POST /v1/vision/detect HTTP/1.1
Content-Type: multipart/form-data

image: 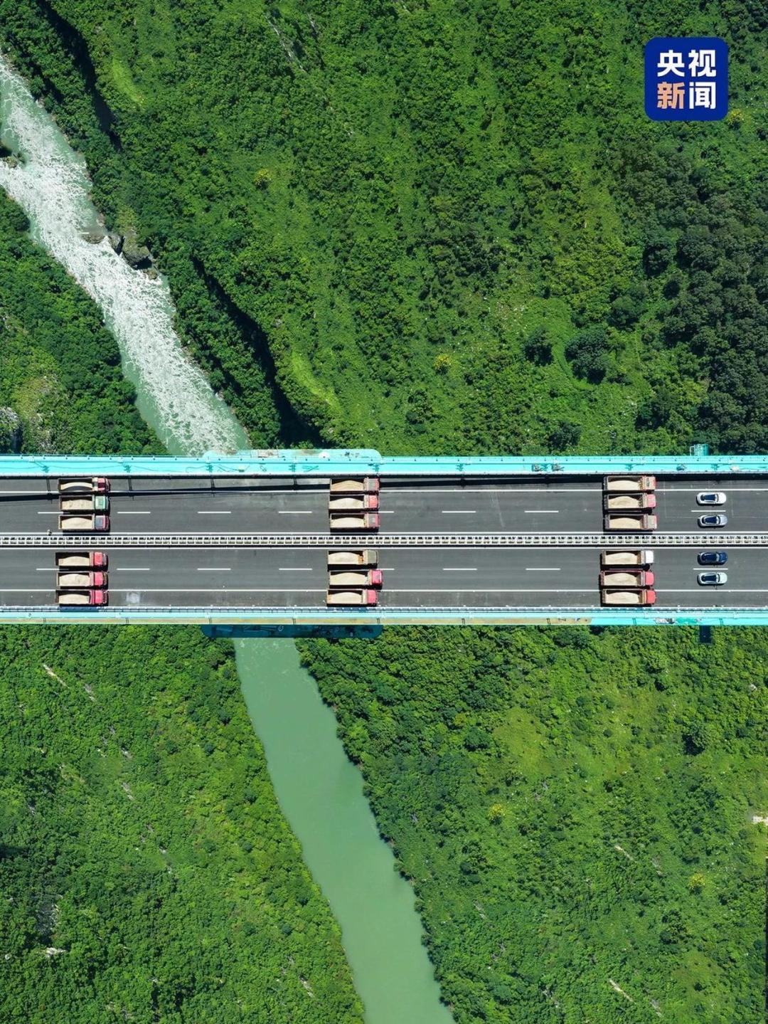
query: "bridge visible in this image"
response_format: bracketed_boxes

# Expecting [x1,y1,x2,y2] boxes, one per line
[0,449,768,637]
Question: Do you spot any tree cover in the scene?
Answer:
Yes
